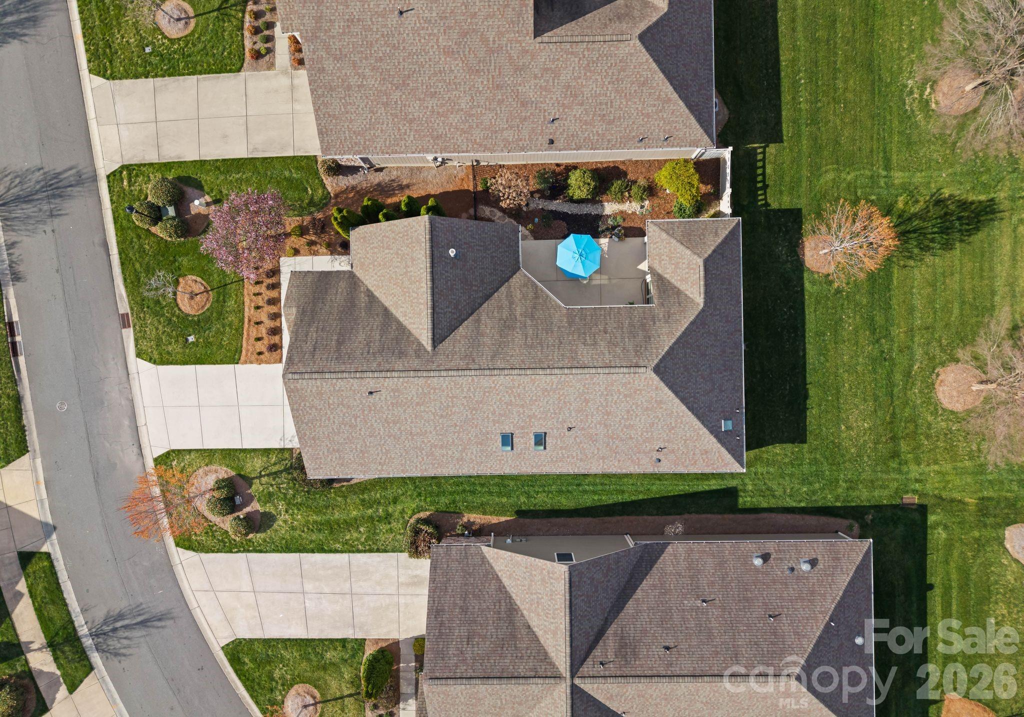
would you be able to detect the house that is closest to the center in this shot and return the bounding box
[282,215,747,481]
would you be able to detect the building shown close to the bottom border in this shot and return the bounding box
[417,529,876,717]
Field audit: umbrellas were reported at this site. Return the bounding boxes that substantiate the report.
[556,234,601,277]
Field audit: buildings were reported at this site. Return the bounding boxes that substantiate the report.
[282,215,747,481]
[276,0,718,174]
[417,529,876,717]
